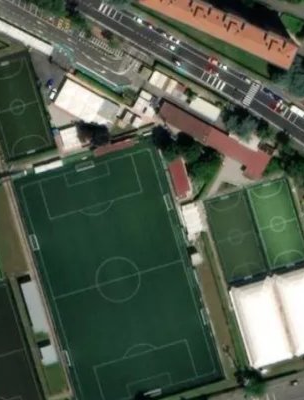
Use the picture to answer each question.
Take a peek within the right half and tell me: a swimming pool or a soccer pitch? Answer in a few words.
soccer pitch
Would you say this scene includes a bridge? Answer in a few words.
No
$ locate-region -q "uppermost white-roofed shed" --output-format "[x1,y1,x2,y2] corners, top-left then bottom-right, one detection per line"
[0,20,54,56]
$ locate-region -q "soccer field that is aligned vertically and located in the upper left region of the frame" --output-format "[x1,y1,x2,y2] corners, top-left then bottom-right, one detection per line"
[0,51,56,163]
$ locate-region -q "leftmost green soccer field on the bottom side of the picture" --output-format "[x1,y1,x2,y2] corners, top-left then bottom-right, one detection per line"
[14,145,226,400]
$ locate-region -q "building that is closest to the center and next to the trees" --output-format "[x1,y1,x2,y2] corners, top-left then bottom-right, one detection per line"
[169,160,189,197]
